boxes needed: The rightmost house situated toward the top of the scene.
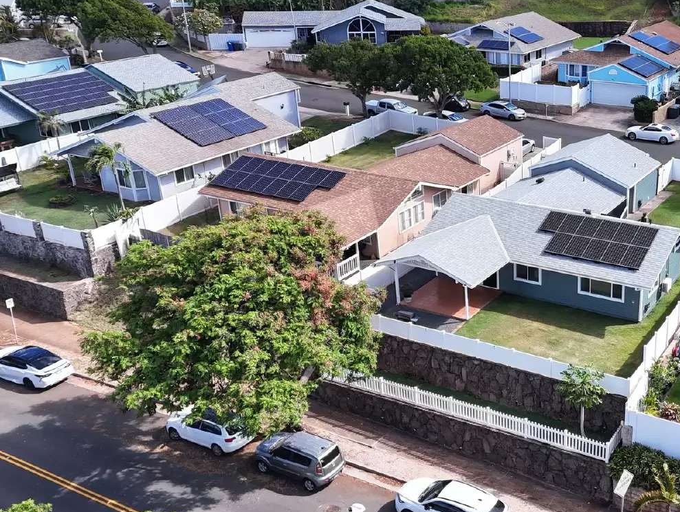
[553,26,680,105]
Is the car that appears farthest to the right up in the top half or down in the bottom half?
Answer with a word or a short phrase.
top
